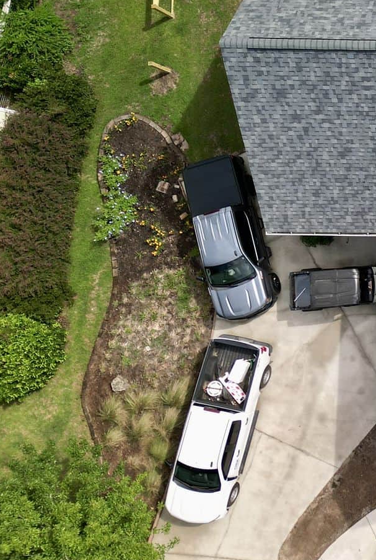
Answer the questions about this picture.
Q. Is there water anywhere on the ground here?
No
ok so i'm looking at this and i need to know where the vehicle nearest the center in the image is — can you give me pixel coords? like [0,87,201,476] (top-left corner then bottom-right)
[178,153,276,321]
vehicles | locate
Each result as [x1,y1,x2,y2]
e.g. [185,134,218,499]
[286,261,376,309]
[158,328,273,528]
[178,153,276,321]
